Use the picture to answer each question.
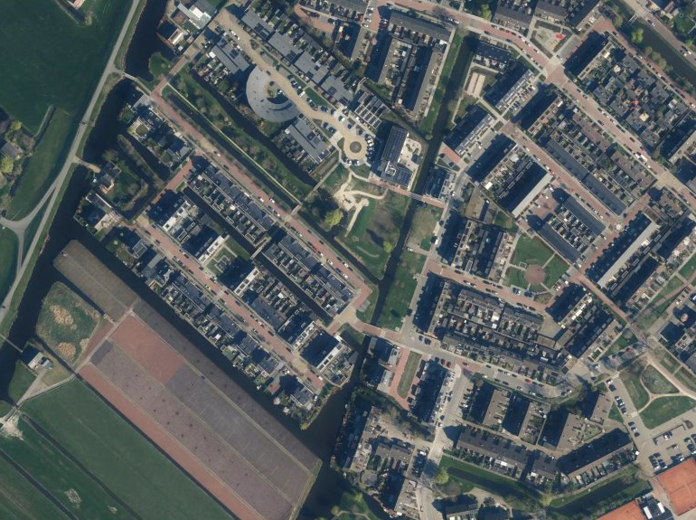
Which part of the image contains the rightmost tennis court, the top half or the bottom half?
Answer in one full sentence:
The rightmost tennis court is in the bottom half of the image.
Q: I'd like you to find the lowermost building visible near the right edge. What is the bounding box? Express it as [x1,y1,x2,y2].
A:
[642,494,672,520]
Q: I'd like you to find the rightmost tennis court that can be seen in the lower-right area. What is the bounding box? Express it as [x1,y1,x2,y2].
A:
[656,459,696,515]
